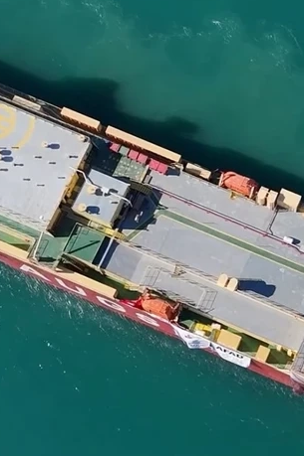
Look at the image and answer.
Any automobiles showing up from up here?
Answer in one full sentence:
No, there isn't any automobile down there.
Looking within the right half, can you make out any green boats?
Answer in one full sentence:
No, within the right half there is no green boat.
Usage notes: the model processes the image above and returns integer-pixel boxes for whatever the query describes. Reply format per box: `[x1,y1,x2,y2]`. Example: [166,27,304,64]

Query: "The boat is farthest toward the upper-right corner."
[219,172,260,195]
